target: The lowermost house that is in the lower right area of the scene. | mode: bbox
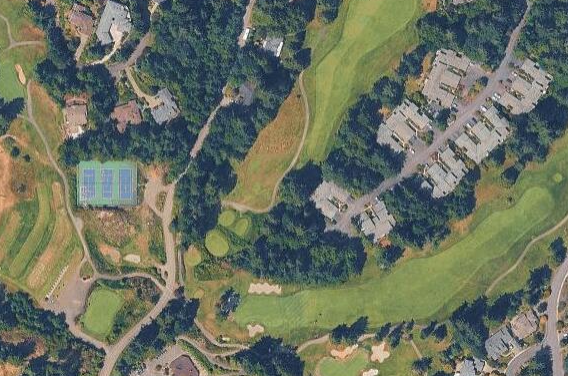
[454,356,488,376]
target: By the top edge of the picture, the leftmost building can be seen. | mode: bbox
[68,1,94,37]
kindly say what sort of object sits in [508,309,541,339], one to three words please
house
